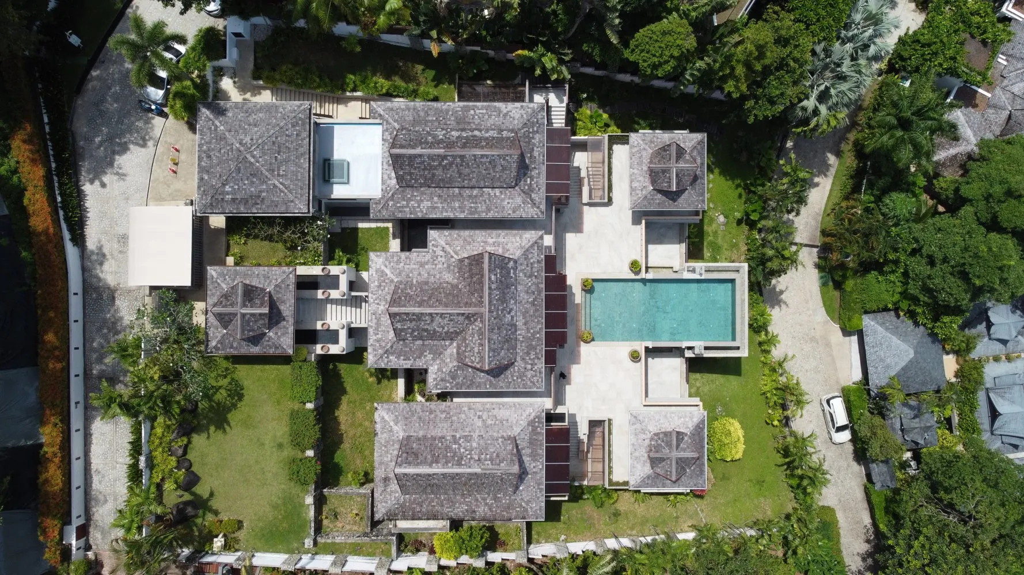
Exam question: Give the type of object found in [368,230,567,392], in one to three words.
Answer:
house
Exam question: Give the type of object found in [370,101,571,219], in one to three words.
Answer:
house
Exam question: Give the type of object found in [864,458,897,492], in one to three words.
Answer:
shed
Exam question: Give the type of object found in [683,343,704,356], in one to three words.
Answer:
fountain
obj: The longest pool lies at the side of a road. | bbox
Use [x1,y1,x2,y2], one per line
[576,264,748,357]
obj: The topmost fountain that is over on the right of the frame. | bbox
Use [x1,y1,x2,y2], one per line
[682,264,704,277]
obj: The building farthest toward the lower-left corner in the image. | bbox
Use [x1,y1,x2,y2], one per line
[206,265,297,355]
